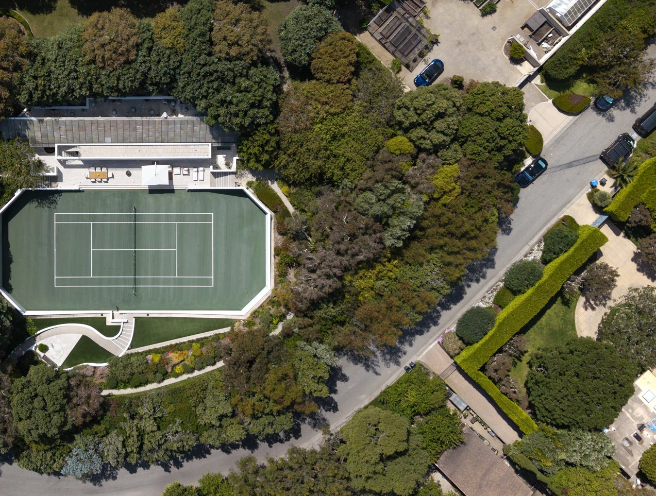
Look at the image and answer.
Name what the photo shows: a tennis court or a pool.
tennis court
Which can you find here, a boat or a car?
car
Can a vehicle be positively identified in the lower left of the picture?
No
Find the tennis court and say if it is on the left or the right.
left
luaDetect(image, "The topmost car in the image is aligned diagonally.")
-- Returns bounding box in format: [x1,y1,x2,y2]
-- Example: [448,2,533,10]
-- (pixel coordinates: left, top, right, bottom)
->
[413,58,444,86]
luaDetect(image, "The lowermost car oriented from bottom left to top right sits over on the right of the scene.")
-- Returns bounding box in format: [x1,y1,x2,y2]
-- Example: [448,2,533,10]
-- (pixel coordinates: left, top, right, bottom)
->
[515,157,547,186]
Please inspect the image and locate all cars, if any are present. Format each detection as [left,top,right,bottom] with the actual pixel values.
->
[592,88,622,113]
[602,134,634,163]
[515,157,547,186]
[633,103,656,135]
[413,58,444,86]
